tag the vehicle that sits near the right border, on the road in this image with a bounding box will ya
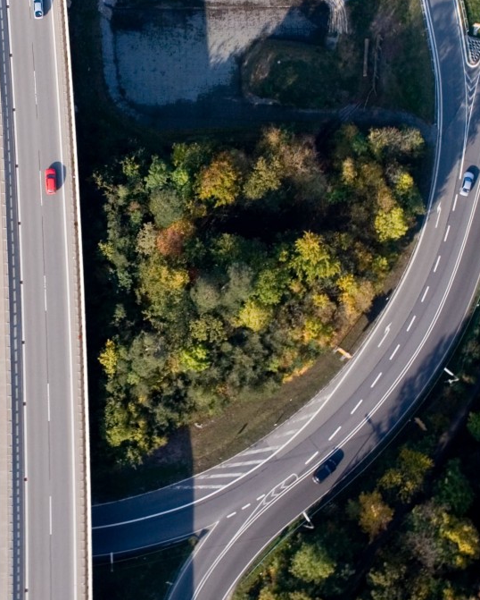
[459,171,475,197]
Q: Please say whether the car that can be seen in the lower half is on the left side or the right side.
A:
right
